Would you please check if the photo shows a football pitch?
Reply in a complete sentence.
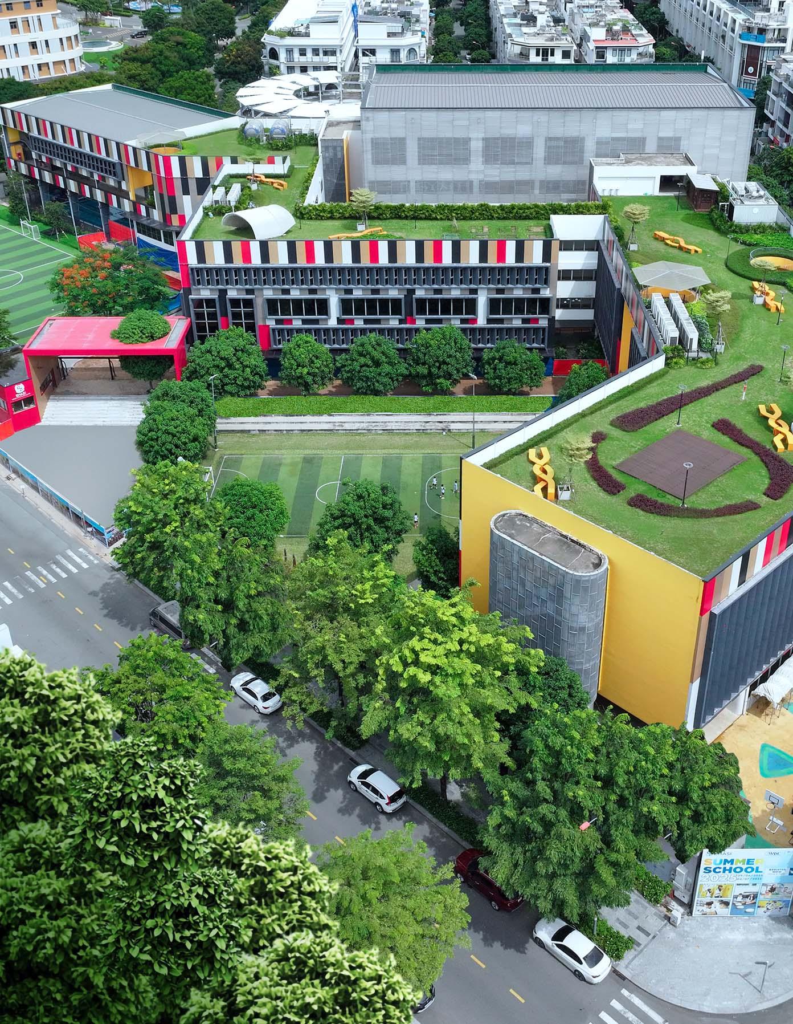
Yes, a football pitch is visible in the scene.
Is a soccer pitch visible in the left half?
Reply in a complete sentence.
Yes, a soccer pitch can be seen in the left half.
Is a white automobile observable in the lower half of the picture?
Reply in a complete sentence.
Yes, you'll find a white automobile in the lower half of the picture.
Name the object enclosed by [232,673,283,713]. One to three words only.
car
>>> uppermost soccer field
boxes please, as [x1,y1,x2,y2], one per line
[0,226,82,349]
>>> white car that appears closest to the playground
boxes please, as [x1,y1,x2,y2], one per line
[537,918,612,982]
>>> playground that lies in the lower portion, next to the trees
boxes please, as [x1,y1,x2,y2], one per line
[709,692,793,849]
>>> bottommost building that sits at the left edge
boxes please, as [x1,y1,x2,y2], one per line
[0,372,39,431]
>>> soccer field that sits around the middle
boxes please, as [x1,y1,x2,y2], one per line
[222,455,462,535]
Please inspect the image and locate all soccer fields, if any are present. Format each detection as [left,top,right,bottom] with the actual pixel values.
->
[222,455,462,535]
[0,226,82,349]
